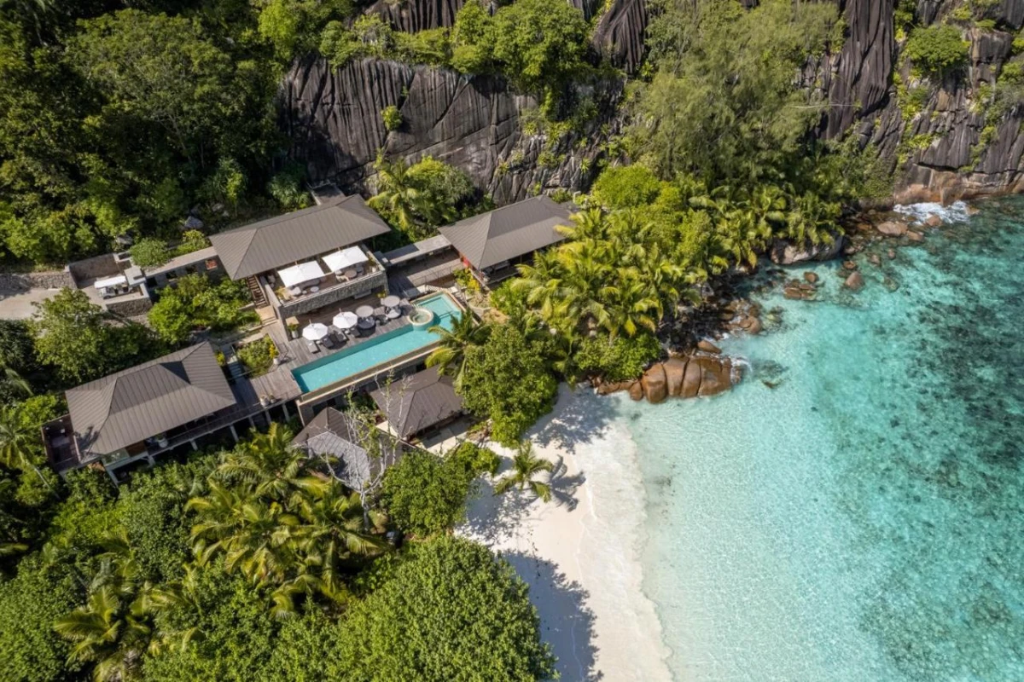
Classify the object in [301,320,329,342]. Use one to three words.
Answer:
umbrella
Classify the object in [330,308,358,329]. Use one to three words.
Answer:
umbrella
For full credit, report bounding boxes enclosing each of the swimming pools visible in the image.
[288,292,480,424]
